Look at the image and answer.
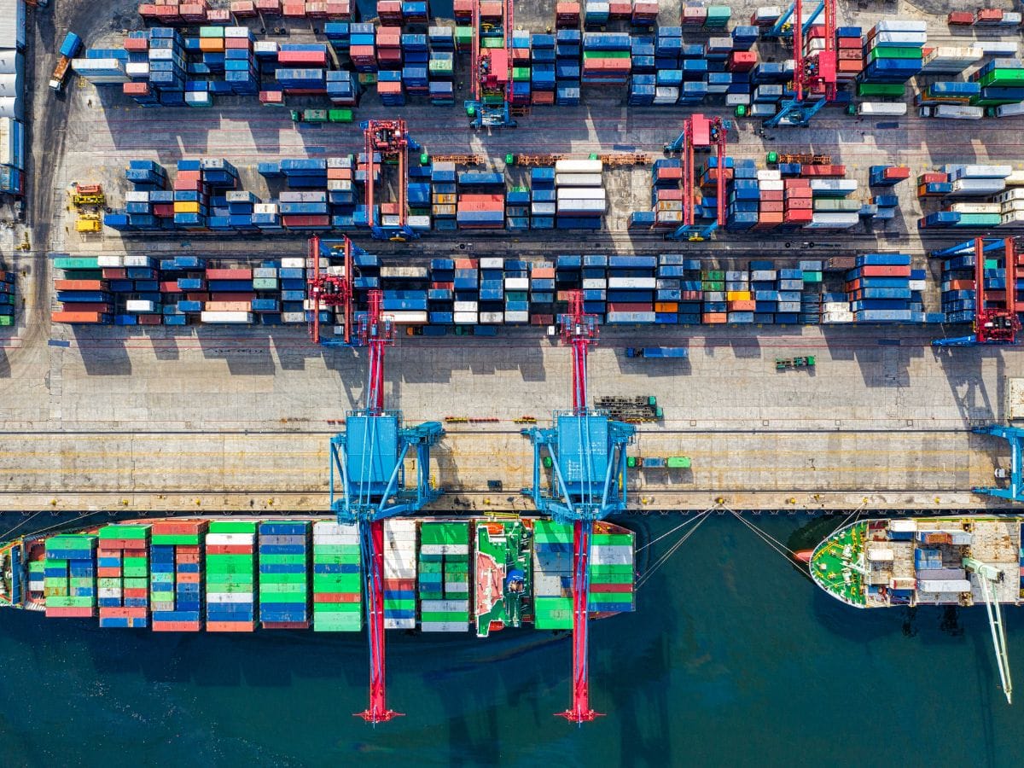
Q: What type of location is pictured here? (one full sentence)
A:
What you see here is a port.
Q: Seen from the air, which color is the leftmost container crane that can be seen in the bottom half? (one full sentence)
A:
The color of the leftmost container crane that can be seen in the bottom half is blue.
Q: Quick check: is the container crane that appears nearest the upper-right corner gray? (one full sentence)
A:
No, from above the container crane that appears nearest the upper-right corner looks red.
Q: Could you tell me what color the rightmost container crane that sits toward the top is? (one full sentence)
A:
The color of the rightmost container crane that sits toward the top is red.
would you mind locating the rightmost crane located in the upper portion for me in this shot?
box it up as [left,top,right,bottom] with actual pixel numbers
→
[932,237,1018,351]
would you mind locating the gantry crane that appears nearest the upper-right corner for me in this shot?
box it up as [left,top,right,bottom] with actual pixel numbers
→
[764,0,838,129]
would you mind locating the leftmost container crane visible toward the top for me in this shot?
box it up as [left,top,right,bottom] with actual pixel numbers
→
[306,237,373,349]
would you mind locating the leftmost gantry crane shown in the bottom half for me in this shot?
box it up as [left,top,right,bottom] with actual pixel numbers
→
[330,290,450,735]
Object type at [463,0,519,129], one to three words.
container crane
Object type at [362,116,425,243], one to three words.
container crane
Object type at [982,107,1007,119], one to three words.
vehicle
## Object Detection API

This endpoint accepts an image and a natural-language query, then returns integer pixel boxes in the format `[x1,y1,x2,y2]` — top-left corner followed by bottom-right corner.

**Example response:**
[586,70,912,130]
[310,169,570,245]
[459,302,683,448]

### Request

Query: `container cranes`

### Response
[463,0,519,129]
[362,116,425,243]
[306,237,373,349]
[764,0,838,129]
[974,431,1024,501]
[330,290,450,735]
[932,237,1018,351]
[664,112,735,243]
[521,290,631,735]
